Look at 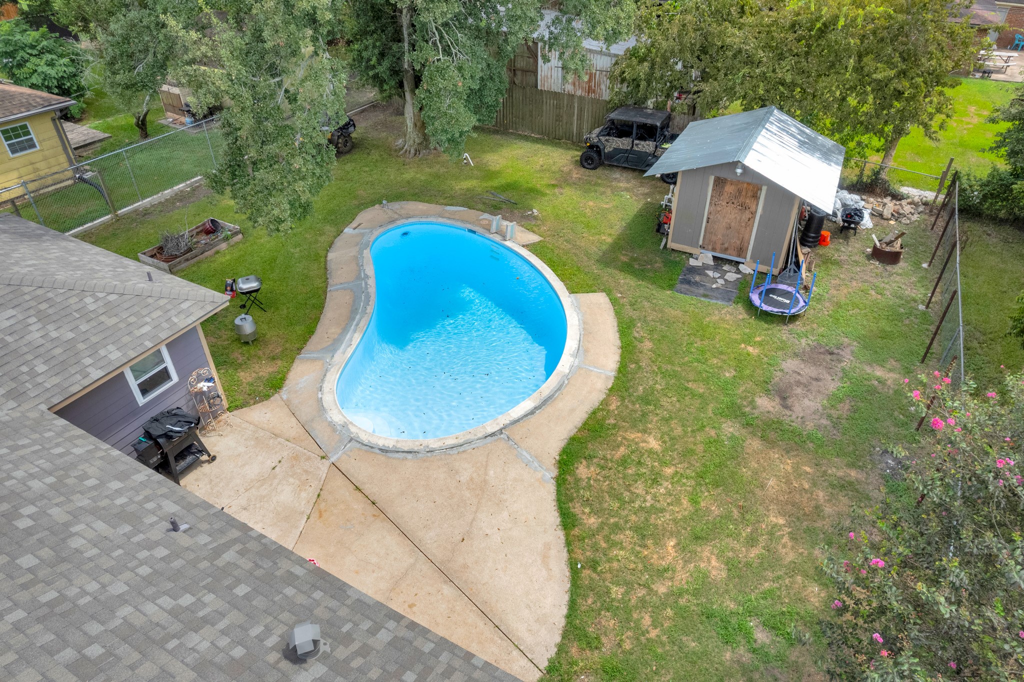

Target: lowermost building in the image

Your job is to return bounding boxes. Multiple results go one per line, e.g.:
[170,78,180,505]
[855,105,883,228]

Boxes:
[0,214,525,682]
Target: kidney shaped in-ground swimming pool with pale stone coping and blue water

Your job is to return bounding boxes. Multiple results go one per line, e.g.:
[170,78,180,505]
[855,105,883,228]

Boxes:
[323,216,579,452]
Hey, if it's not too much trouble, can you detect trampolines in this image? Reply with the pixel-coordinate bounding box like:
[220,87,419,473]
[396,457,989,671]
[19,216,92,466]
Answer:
[748,251,819,322]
